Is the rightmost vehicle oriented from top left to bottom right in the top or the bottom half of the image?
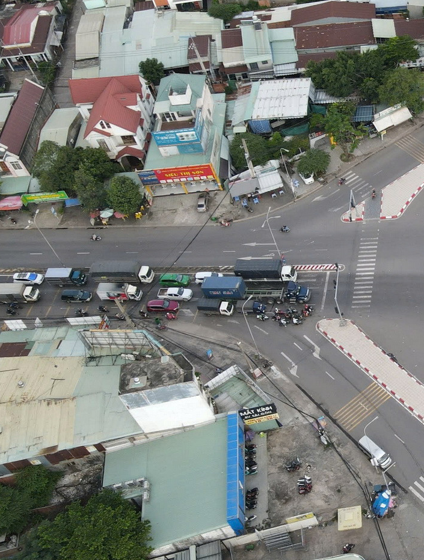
bottom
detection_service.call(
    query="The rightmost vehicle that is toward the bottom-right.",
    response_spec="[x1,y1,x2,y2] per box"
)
[357,430,394,471]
